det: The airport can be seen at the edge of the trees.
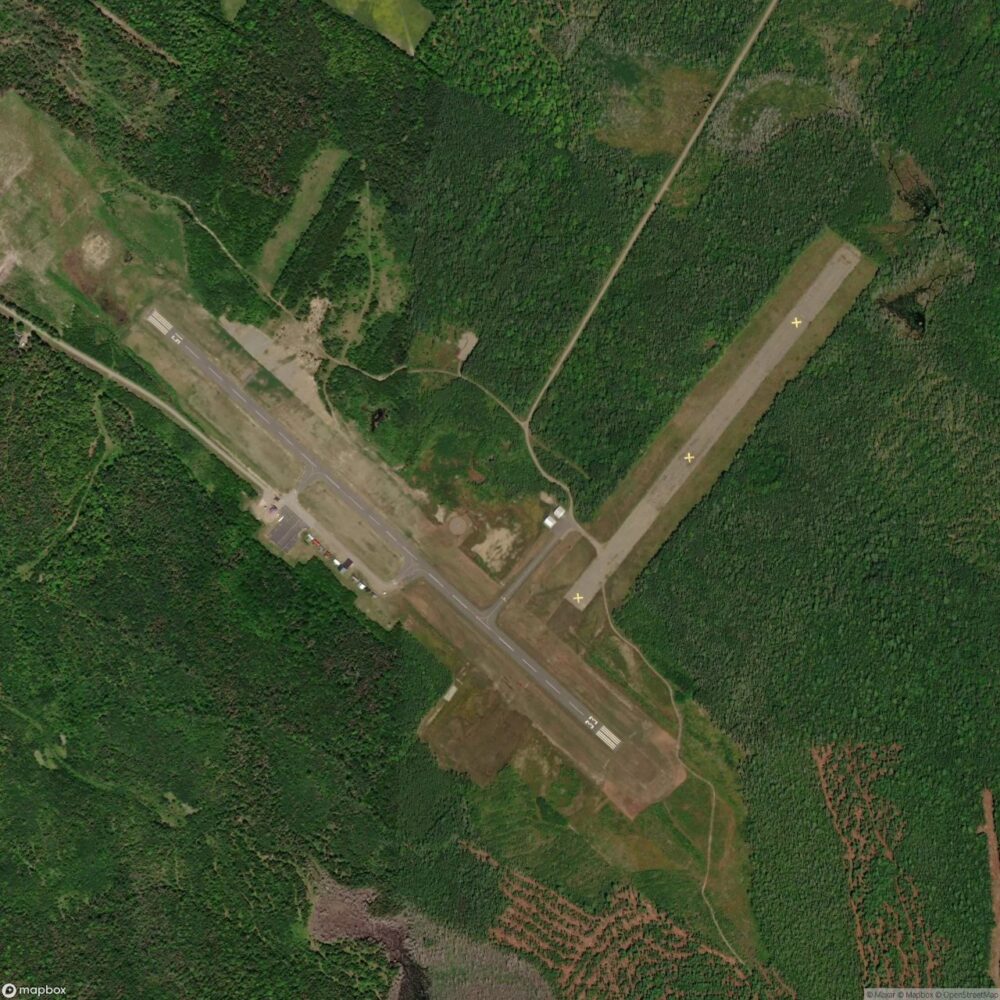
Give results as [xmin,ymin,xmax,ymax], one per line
[142,244,860,756]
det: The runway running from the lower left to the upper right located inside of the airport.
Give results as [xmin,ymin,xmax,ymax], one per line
[564,244,860,609]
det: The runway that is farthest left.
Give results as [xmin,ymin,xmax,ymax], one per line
[145,308,624,753]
